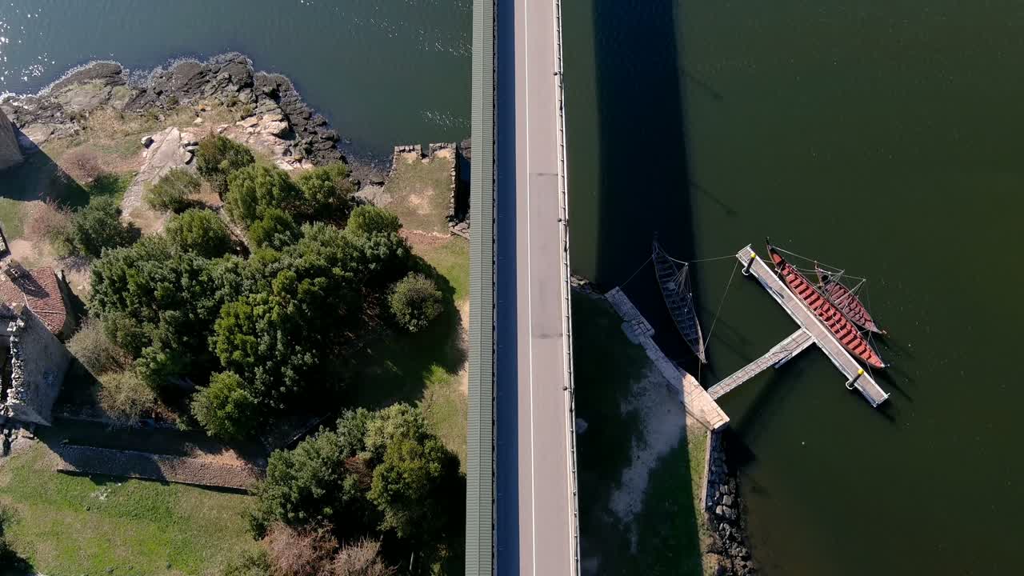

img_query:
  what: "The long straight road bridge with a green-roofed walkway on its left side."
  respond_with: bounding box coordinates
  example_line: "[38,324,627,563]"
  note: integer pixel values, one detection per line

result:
[466,0,580,576]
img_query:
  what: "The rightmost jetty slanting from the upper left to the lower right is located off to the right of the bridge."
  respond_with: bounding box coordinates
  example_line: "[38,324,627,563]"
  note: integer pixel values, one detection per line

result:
[734,241,892,408]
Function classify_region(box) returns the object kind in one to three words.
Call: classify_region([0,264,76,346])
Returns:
building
